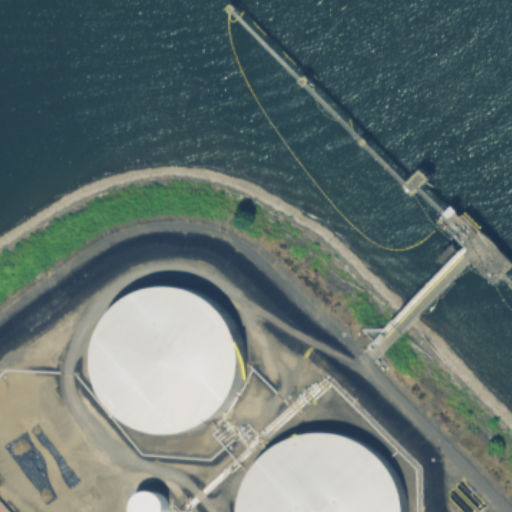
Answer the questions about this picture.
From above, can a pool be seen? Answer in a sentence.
No, there isn't any pool down there.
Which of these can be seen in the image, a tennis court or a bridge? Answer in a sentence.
The one in the frame is a bridge.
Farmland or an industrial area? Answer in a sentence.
The picture captures an industrial area.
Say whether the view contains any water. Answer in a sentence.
Yes, some water is visible.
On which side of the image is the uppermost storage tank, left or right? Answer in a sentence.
The uppermost storage tank sits on the left side.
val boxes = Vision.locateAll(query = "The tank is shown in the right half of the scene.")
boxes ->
[238,430,412,512]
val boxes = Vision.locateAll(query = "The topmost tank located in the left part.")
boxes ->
[88,285,247,438]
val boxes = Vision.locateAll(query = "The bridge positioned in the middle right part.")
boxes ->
[362,246,476,358]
